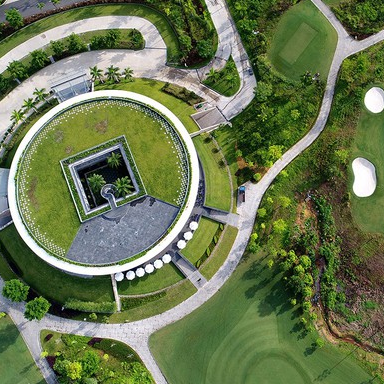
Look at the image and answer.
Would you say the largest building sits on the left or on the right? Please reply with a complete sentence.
You can find the largest building on the left side of the picture.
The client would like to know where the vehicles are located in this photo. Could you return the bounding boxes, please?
[239,185,246,201]
[248,69,254,77]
